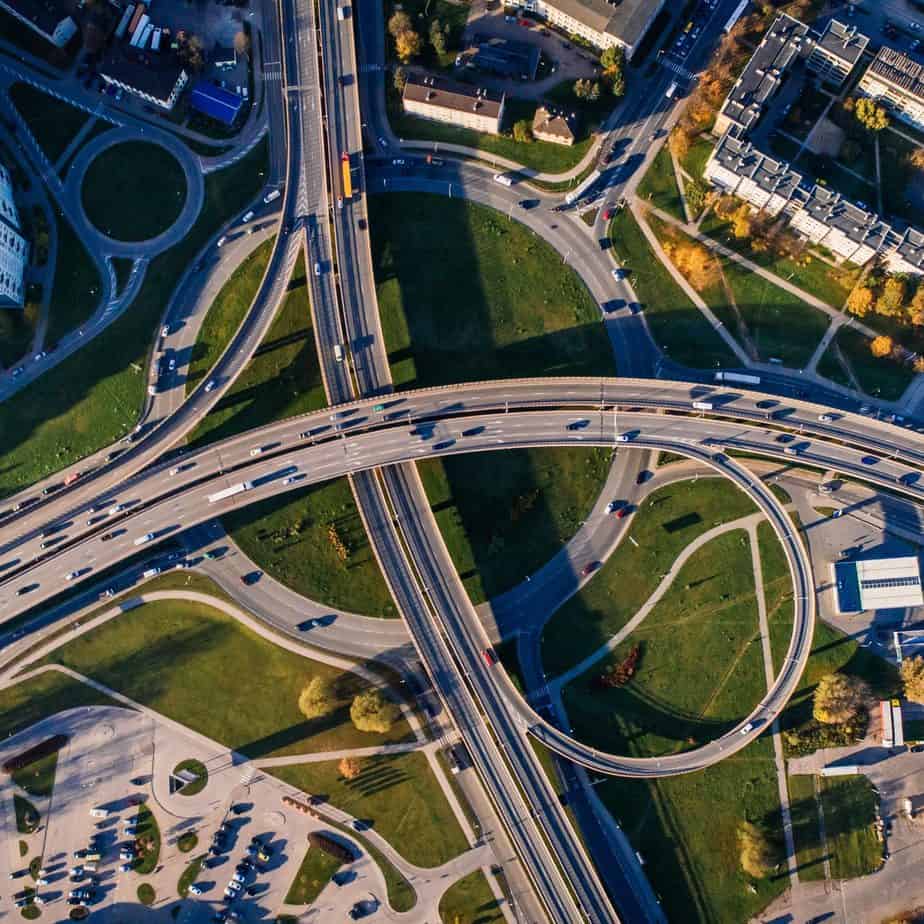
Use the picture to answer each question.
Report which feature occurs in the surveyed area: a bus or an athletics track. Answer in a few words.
bus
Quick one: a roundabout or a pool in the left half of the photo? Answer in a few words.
roundabout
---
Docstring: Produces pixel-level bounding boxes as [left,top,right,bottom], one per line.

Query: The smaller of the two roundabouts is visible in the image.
[64,122,204,260]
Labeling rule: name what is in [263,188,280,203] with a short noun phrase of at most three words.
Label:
vehicle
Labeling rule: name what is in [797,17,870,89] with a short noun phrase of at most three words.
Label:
building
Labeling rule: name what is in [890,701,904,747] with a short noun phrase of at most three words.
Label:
vehicle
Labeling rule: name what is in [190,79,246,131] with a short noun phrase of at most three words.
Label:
shed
